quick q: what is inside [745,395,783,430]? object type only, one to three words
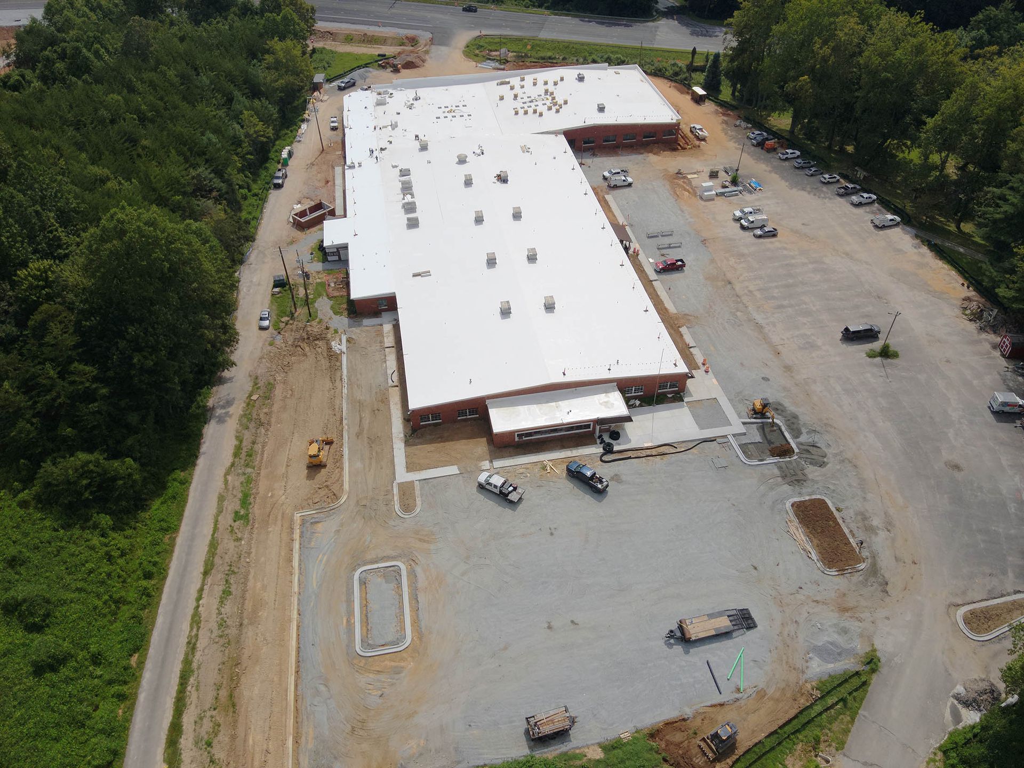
work vehicle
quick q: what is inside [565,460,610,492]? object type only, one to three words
truck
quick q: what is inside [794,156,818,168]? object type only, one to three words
vehicle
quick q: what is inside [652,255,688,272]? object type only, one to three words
vehicle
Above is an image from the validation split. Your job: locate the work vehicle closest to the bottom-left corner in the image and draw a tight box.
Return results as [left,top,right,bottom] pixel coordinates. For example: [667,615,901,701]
[306,437,334,468]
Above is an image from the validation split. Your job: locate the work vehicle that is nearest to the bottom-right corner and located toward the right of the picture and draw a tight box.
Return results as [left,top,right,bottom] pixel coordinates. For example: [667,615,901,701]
[696,719,740,763]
